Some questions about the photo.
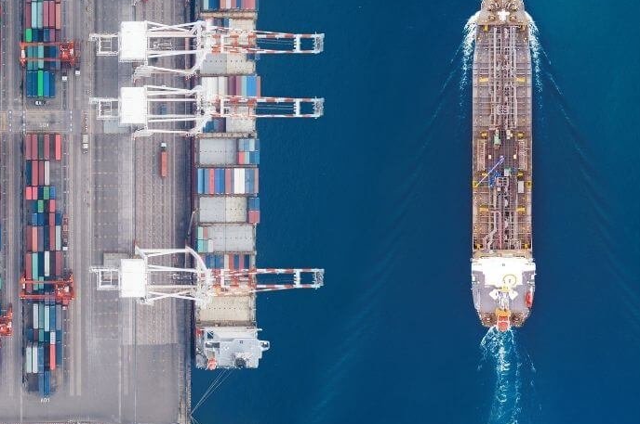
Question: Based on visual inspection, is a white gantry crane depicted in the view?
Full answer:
Yes, you can see a white gantry crane in this photo.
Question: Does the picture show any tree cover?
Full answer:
No, the picture contains no tree cover.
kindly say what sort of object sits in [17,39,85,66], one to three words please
container crane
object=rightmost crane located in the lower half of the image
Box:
[90,239,322,313]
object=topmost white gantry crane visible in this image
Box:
[90,12,322,82]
